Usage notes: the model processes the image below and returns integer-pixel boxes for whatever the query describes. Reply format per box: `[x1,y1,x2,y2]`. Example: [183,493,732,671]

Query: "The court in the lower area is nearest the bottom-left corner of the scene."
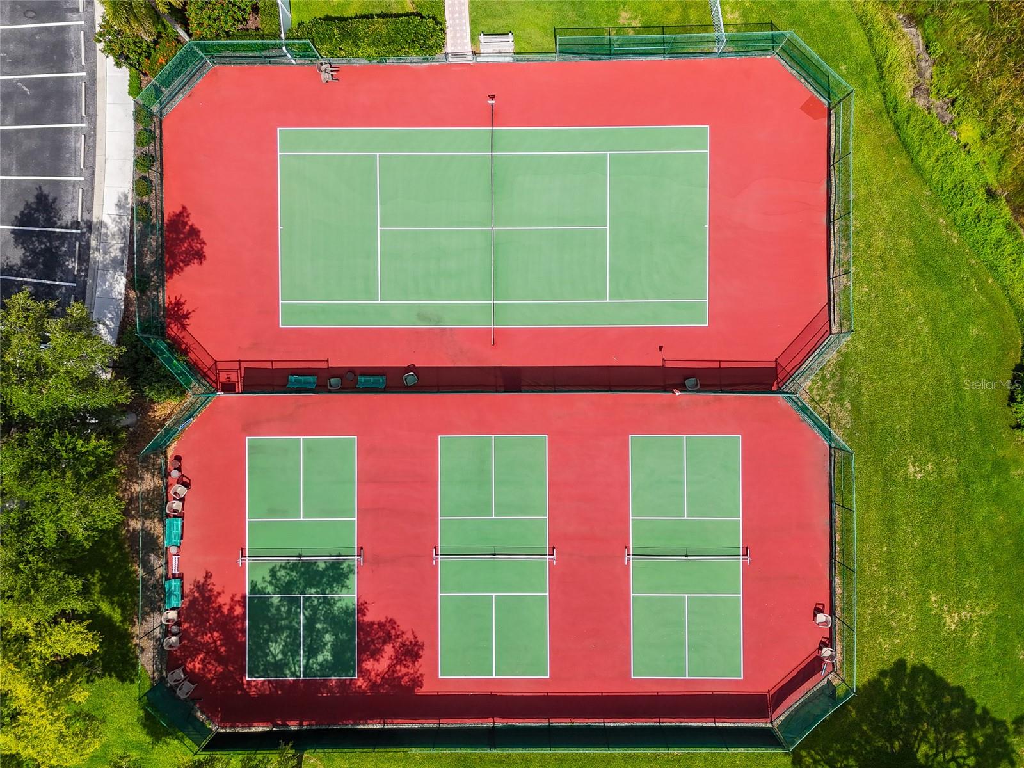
[246,437,357,679]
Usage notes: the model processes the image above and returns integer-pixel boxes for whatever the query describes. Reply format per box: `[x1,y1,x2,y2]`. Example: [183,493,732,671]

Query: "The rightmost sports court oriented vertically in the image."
[630,435,743,679]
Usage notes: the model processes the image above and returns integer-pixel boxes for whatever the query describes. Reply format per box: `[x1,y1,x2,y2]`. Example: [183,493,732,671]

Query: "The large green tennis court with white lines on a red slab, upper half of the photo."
[163,57,830,392]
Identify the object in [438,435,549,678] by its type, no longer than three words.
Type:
sports court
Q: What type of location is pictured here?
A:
sports ground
